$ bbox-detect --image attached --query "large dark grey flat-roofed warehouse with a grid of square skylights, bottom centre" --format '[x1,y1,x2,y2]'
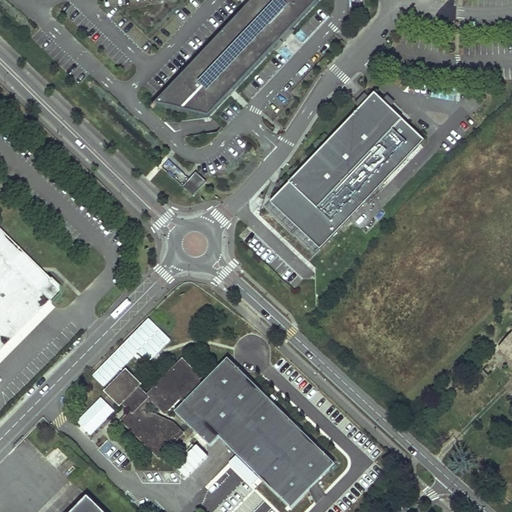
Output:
[175,358,334,510]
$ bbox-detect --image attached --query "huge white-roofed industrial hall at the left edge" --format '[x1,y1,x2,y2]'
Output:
[0,228,60,362]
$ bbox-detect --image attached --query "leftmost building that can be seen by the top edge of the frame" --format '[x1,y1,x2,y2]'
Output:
[150,0,323,118]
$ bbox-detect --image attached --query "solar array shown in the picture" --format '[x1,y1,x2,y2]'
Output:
[198,0,290,89]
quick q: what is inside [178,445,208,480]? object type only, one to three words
shed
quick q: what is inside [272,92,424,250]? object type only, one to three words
building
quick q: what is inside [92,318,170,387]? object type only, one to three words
shed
